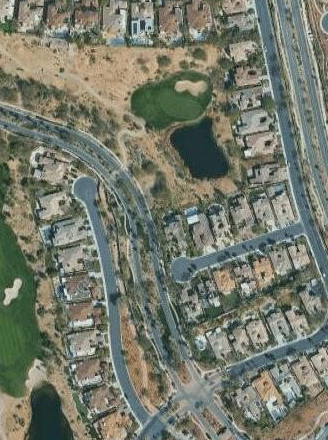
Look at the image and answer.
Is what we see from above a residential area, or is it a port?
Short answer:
residential area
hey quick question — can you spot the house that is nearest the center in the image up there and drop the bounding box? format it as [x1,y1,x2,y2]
[163,220,189,254]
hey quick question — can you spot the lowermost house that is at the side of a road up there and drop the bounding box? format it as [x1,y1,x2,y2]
[98,411,135,440]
